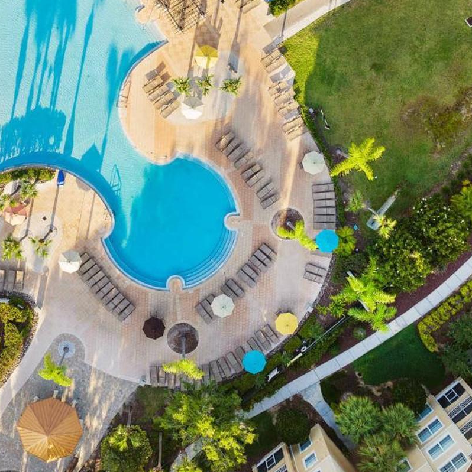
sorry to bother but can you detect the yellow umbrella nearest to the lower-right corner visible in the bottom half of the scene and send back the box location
[274,310,298,335]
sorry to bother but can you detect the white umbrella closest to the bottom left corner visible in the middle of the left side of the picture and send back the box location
[59,249,82,274]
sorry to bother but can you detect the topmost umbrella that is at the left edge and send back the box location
[5,201,28,224]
